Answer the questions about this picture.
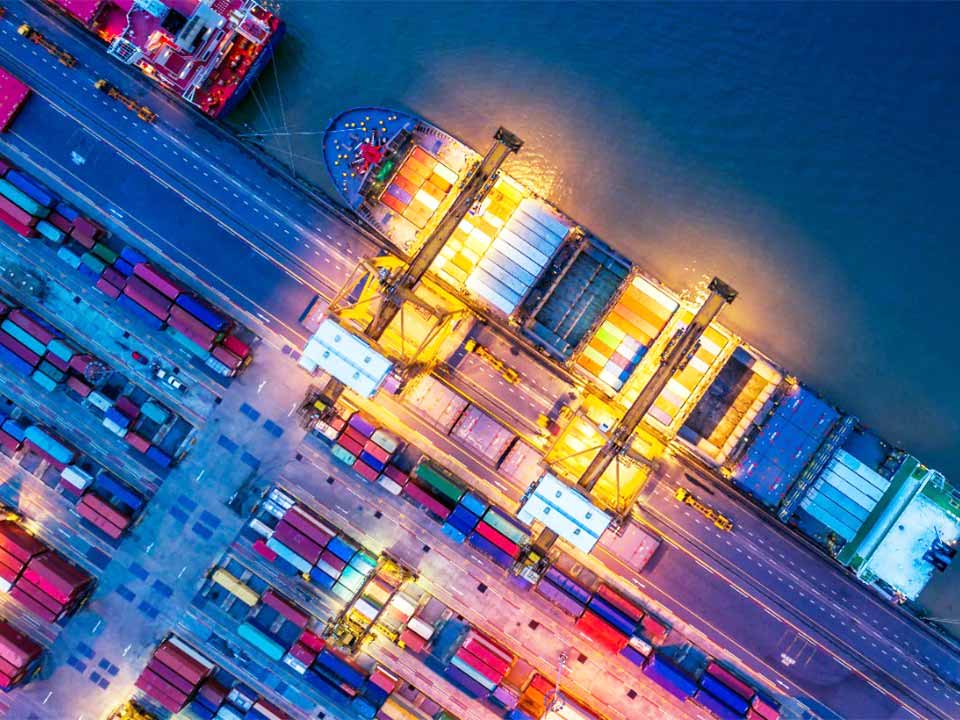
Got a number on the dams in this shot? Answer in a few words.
zero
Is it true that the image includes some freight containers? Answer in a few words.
Yes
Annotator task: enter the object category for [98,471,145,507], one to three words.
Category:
shipping container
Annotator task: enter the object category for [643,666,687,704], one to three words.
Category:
shipping container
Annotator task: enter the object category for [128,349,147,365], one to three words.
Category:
car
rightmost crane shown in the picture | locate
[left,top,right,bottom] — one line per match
[499,268,742,591]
